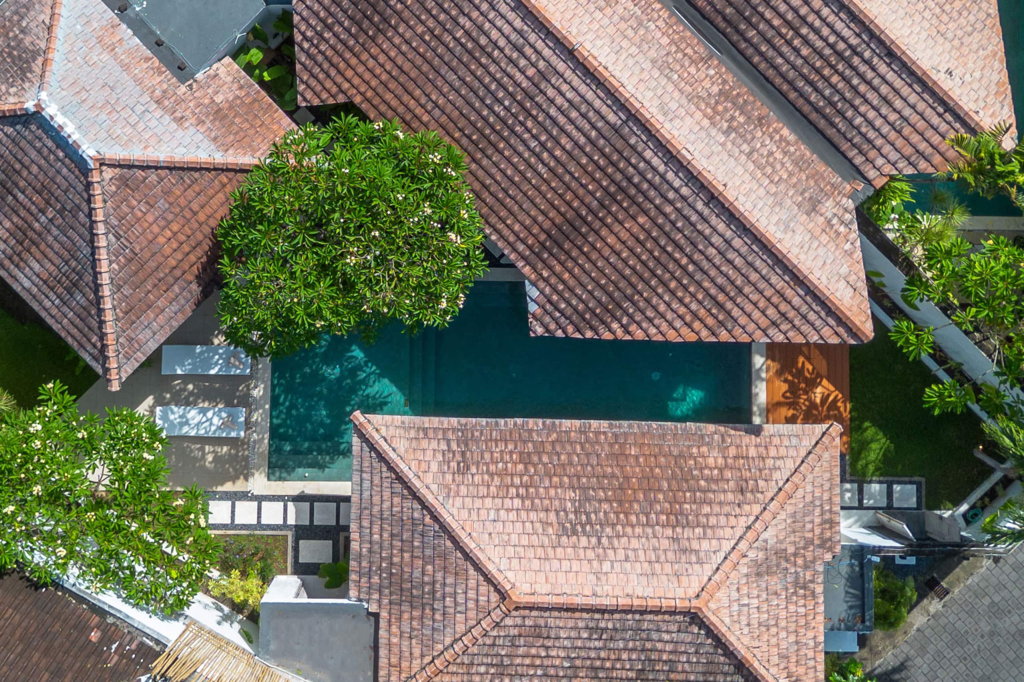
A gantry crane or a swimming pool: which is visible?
swimming pool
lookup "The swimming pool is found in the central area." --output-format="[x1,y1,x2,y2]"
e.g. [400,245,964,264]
[271,281,752,481]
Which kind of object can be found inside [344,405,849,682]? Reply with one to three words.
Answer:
house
